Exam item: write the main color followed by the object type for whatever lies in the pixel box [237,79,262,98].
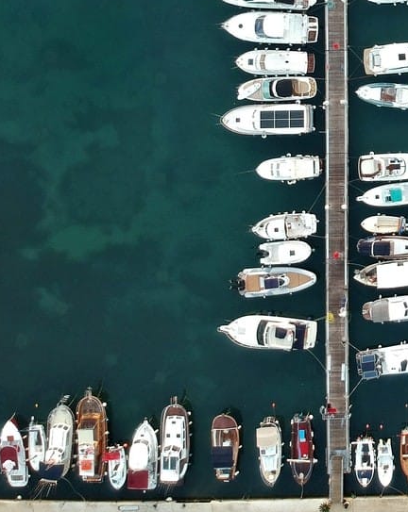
white boat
